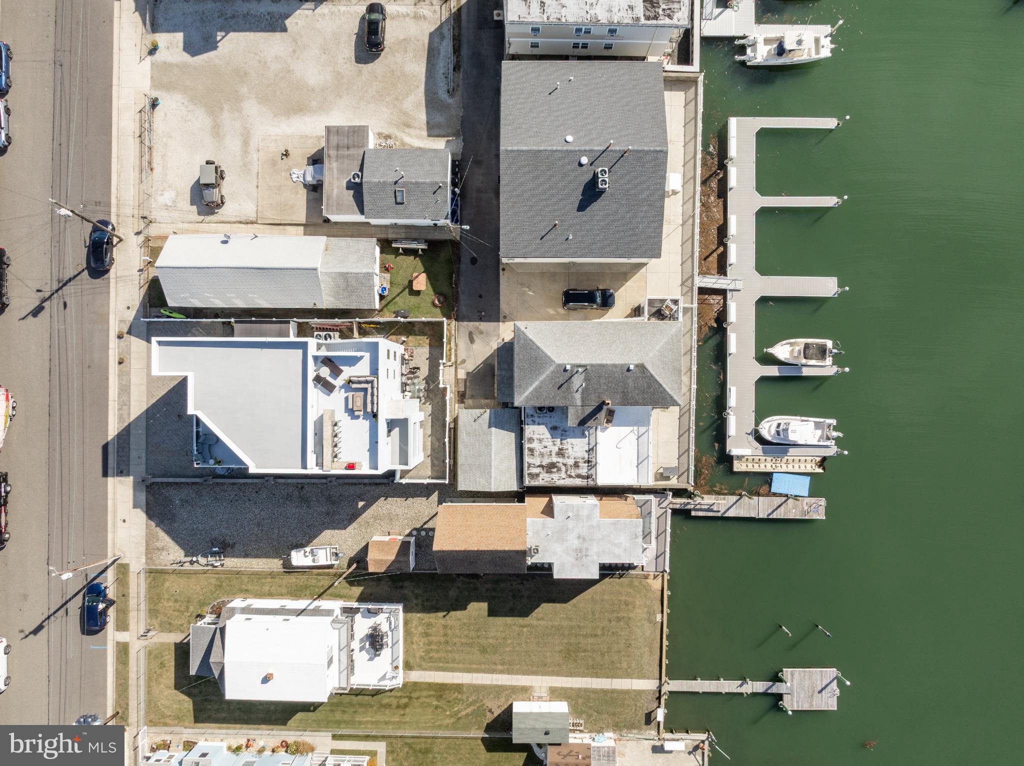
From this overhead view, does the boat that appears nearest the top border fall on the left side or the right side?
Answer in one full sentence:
You can find the boat that appears nearest the top border on the right side of the picture.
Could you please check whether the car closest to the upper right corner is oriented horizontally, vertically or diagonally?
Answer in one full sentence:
From this overhead view, the car closest to the upper right corner appears to run horizontally.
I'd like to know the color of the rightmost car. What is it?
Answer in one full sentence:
From above, the rightmost car appears black.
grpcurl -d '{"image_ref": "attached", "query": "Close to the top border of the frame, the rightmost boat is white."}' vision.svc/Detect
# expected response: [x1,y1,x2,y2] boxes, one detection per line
[729,9,837,69]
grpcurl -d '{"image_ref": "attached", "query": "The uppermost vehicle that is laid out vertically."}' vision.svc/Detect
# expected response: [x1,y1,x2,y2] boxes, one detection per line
[361,0,386,53]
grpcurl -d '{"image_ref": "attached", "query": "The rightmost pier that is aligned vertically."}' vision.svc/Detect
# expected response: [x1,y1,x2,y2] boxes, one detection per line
[726,117,838,456]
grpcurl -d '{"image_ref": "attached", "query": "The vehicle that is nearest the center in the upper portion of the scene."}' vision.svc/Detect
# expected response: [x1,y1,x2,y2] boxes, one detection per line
[561,286,615,311]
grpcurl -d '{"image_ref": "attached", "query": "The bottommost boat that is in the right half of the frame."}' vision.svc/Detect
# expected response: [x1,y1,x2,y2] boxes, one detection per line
[757,415,847,445]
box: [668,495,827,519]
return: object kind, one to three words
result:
pier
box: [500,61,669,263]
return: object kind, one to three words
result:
house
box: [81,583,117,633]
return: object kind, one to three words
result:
car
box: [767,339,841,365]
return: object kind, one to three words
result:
boat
